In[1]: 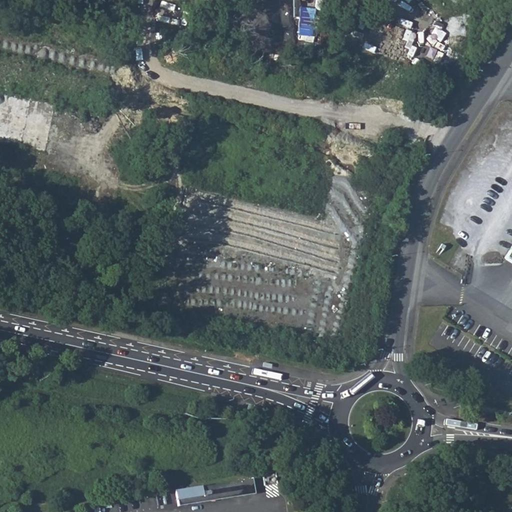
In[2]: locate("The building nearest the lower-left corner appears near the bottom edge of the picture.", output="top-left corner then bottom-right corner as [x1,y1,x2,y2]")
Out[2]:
[178,486,210,504]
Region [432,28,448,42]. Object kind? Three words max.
camper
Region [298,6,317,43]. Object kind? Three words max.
building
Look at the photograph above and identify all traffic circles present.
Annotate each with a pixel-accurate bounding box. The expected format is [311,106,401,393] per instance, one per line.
[330,372,431,472]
